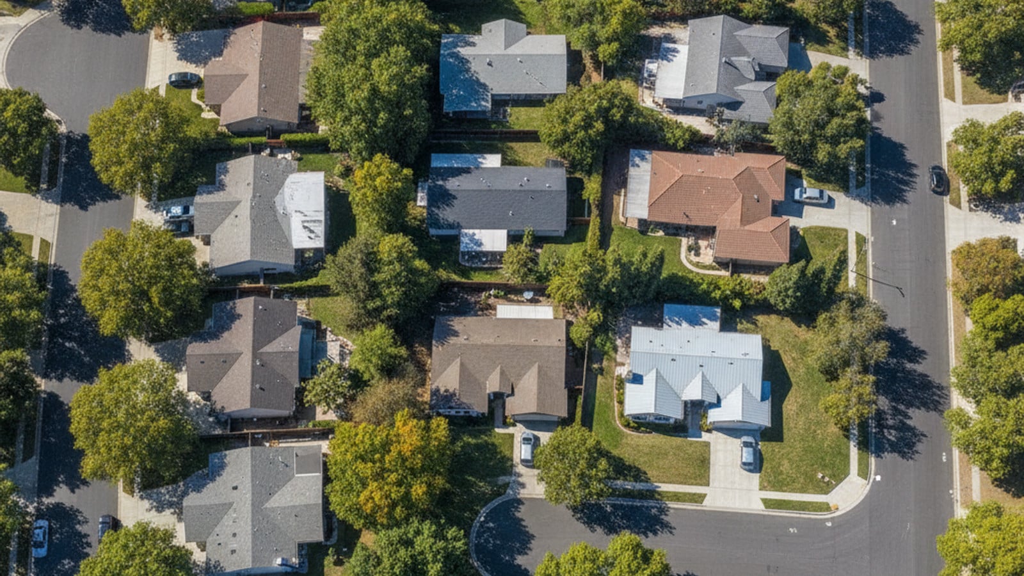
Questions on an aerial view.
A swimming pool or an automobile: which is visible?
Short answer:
automobile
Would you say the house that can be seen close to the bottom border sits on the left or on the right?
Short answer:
left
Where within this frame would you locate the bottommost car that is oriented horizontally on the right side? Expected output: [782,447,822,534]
[794,188,828,203]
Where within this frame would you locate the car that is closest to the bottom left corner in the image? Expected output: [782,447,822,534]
[31,520,50,557]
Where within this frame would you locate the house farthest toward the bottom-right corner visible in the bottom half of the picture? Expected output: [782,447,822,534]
[624,304,772,427]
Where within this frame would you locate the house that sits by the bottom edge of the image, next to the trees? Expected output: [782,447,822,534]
[179,445,324,572]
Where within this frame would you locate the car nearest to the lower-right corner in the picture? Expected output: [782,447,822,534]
[739,435,756,471]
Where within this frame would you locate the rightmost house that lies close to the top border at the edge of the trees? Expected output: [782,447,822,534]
[654,15,788,126]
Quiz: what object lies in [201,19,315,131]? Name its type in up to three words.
house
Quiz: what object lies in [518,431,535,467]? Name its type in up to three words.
car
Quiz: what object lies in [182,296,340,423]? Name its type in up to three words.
house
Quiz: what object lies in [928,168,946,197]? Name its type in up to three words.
car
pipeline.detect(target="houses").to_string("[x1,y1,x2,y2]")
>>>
[182,296,340,423]
[439,18,567,115]
[624,149,790,267]
[430,304,567,421]
[190,155,326,273]
[654,15,788,126]
[624,304,772,427]
[179,445,324,572]
[201,19,315,131]
[417,153,567,257]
